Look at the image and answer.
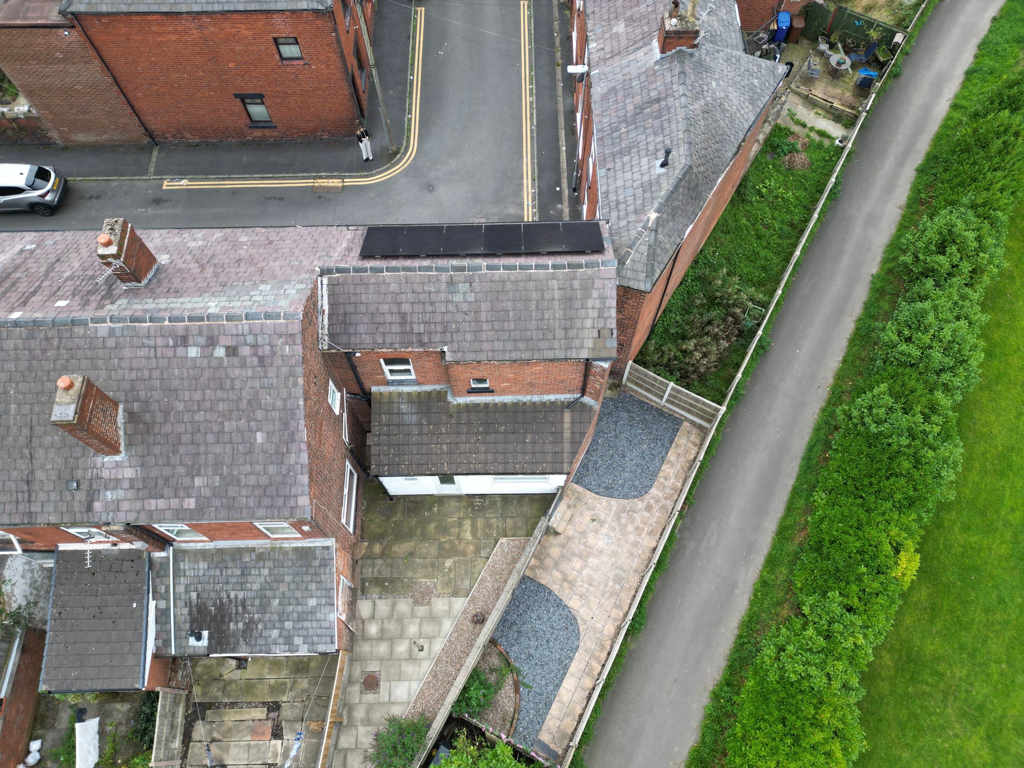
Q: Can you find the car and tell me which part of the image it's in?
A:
top left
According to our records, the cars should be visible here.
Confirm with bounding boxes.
[0,158,69,218]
